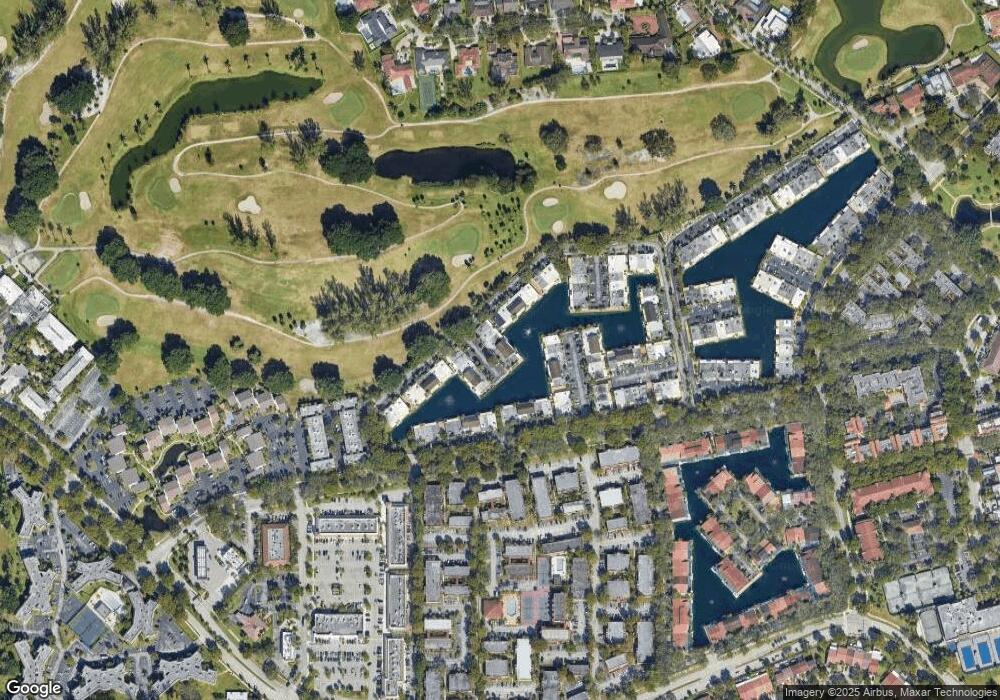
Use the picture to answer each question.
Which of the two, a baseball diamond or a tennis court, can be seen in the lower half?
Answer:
tennis court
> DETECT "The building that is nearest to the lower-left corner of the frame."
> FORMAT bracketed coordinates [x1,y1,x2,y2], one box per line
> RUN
[12,640,56,700]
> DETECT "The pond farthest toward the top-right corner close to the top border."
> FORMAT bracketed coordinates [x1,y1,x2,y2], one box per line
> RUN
[817,0,942,99]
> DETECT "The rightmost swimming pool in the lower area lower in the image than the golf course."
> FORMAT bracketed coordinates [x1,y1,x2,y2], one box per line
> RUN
[503,593,521,626]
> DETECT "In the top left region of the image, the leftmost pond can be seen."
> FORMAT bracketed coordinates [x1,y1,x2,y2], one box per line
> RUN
[111,71,320,208]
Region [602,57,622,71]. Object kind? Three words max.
swimming pool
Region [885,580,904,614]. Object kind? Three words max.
tennis court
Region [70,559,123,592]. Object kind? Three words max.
building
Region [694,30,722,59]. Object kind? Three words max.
house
